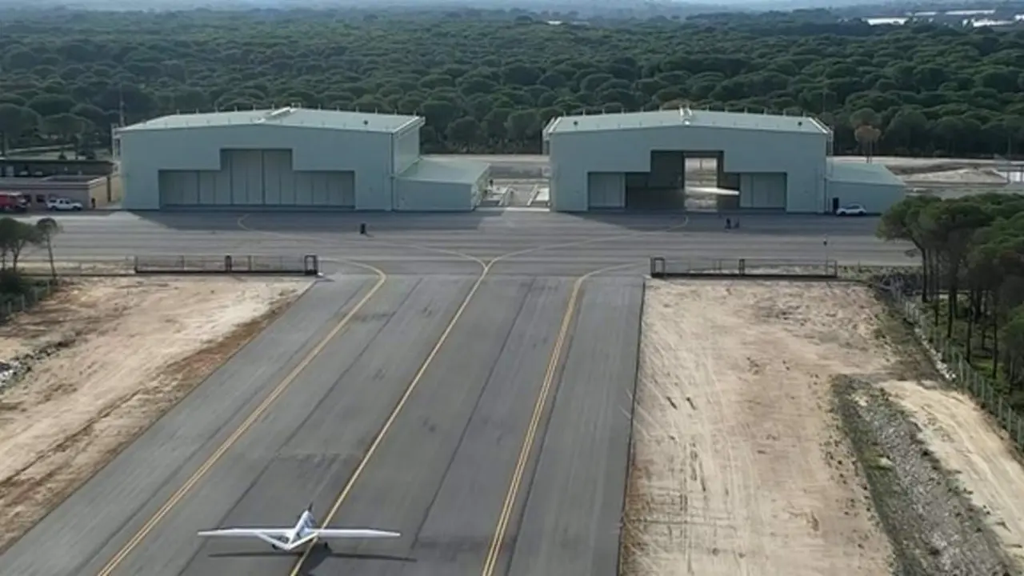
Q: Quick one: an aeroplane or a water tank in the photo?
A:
aeroplane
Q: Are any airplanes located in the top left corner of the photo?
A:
No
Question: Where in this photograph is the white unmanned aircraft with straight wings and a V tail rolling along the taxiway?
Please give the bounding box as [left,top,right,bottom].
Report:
[197,501,399,551]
